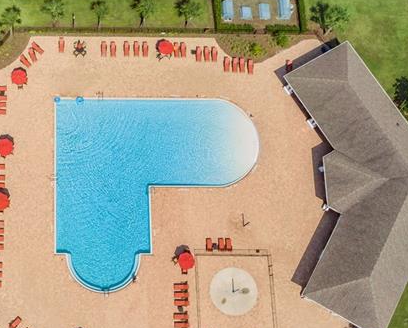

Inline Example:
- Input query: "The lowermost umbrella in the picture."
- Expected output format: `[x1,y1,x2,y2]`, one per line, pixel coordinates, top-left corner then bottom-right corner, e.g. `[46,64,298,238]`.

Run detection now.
[177,252,195,271]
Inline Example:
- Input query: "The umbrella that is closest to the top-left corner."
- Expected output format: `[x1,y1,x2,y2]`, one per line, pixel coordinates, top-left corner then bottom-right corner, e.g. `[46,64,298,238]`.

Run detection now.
[11,68,29,86]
